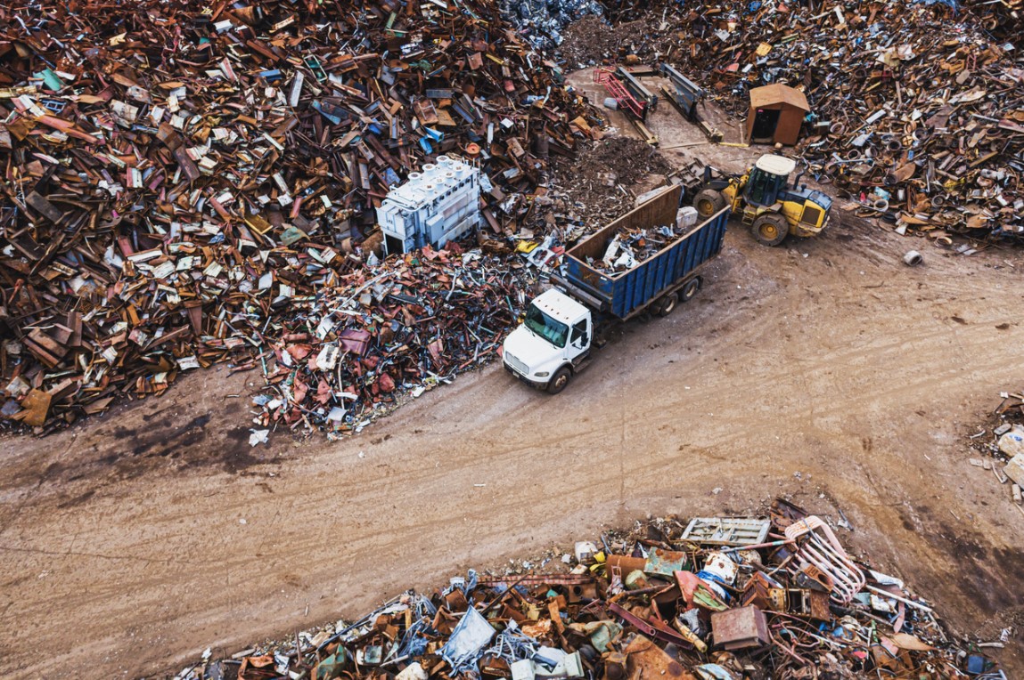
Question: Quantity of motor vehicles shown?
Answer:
2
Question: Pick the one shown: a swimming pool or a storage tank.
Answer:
storage tank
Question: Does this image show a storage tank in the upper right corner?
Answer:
No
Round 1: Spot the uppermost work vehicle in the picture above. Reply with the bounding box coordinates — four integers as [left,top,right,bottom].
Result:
[649,156,829,251]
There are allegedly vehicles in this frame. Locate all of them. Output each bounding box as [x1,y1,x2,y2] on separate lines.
[501,273,620,395]
[649,156,829,251]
